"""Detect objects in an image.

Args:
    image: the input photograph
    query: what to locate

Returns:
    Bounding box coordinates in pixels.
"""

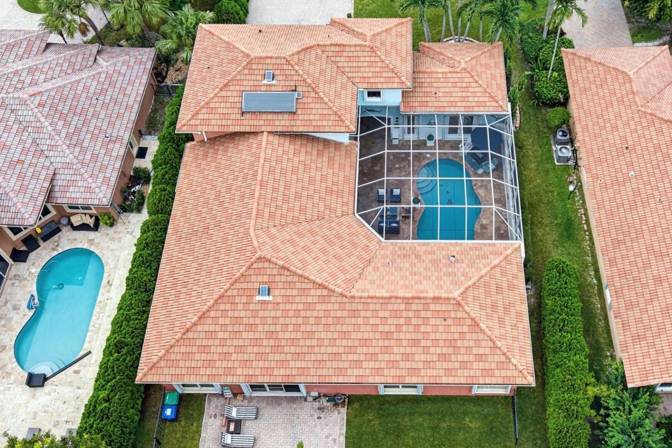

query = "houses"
[133,15,536,396]
[0,28,157,307]
[560,43,672,391]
